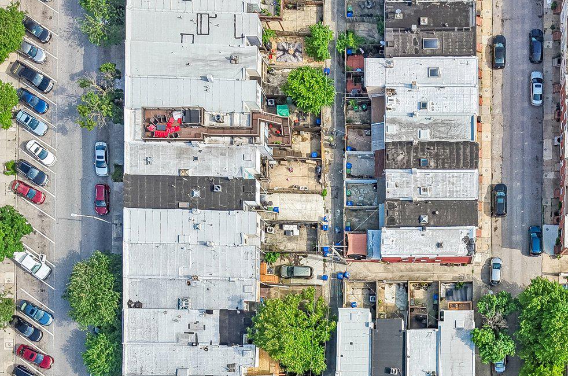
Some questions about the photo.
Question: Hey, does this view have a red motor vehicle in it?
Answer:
Yes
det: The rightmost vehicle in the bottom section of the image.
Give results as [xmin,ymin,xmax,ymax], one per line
[526,226,544,257]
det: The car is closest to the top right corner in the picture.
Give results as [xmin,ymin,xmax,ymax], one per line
[528,31,545,62]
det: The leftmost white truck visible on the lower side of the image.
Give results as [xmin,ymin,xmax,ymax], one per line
[10,248,53,281]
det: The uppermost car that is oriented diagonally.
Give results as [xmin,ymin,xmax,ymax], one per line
[24,15,56,44]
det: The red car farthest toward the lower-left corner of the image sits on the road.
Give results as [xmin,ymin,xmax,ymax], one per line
[19,342,54,369]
